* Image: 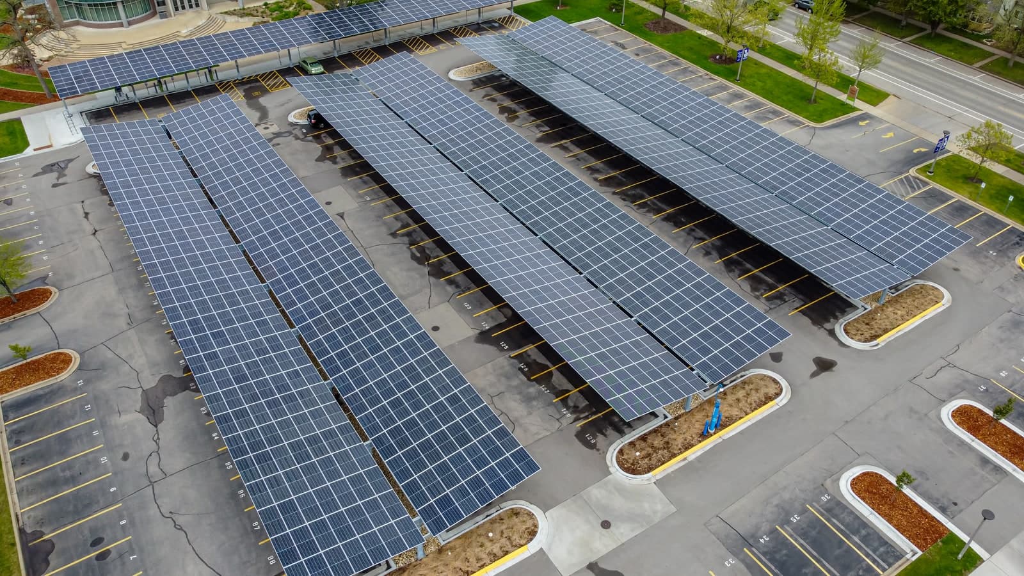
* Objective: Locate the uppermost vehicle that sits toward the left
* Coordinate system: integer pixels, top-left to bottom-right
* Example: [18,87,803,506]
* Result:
[297,56,323,75]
